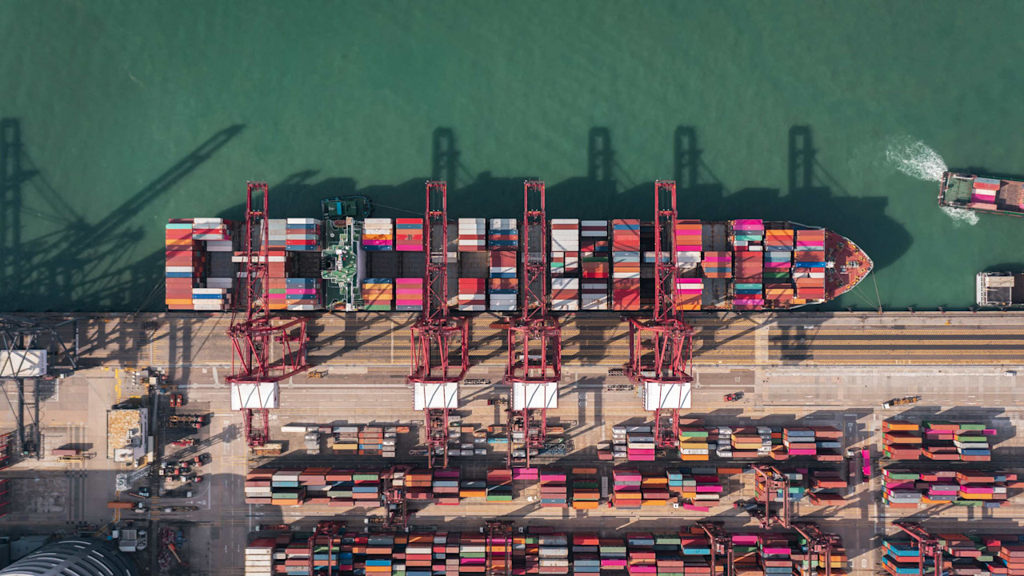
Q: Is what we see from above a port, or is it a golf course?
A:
port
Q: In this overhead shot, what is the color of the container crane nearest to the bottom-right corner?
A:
red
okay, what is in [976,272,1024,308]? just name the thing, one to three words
vessel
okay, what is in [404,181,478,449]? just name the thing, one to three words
container crane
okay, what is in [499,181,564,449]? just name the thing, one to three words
container crane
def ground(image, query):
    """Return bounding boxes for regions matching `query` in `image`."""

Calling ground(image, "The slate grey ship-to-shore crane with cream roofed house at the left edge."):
[0,297,109,449]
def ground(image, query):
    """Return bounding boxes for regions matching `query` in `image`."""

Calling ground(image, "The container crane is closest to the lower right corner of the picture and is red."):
[894,520,942,576]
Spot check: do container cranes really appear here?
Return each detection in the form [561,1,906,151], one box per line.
[894,520,942,576]
[486,520,513,576]
[0,297,109,449]
[404,181,478,449]
[506,405,532,469]
[223,181,321,449]
[307,520,343,576]
[698,520,735,576]
[499,181,564,449]
[749,462,790,534]
[790,520,832,576]
[382,461,414,534]
[614,181,693,449]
